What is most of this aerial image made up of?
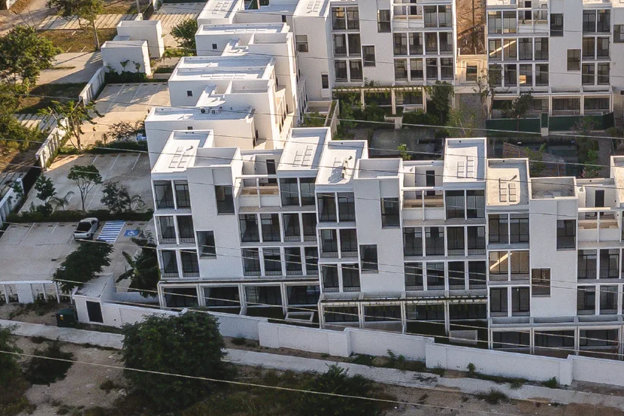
buildings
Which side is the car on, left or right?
left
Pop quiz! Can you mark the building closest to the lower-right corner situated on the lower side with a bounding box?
[485,156,624,365]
